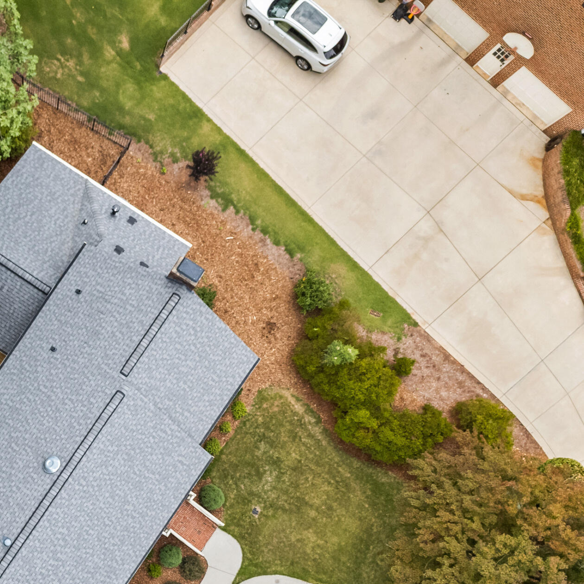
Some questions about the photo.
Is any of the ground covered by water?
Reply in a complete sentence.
No, water can't be seen anywhere here.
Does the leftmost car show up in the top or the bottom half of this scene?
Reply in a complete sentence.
Seen from above, the leftmost car lies in the top half of the view.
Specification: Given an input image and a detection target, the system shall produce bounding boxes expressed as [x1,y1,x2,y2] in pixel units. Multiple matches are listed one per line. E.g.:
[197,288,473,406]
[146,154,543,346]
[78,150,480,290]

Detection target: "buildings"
[0,139,264,584]
[395,0,584,138]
